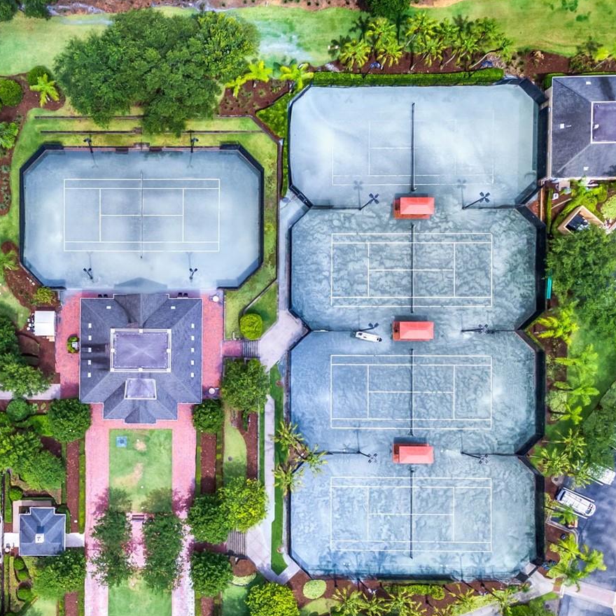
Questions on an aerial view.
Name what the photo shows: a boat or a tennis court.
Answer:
tennis court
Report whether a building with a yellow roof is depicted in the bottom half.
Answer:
No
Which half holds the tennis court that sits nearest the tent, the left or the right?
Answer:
left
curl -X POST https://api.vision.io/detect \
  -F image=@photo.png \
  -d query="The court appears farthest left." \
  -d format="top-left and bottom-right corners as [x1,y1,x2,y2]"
[21,146,261,291]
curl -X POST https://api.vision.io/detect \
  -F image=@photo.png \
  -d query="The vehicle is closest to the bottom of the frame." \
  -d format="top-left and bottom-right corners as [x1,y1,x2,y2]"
[554,488,600,516]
